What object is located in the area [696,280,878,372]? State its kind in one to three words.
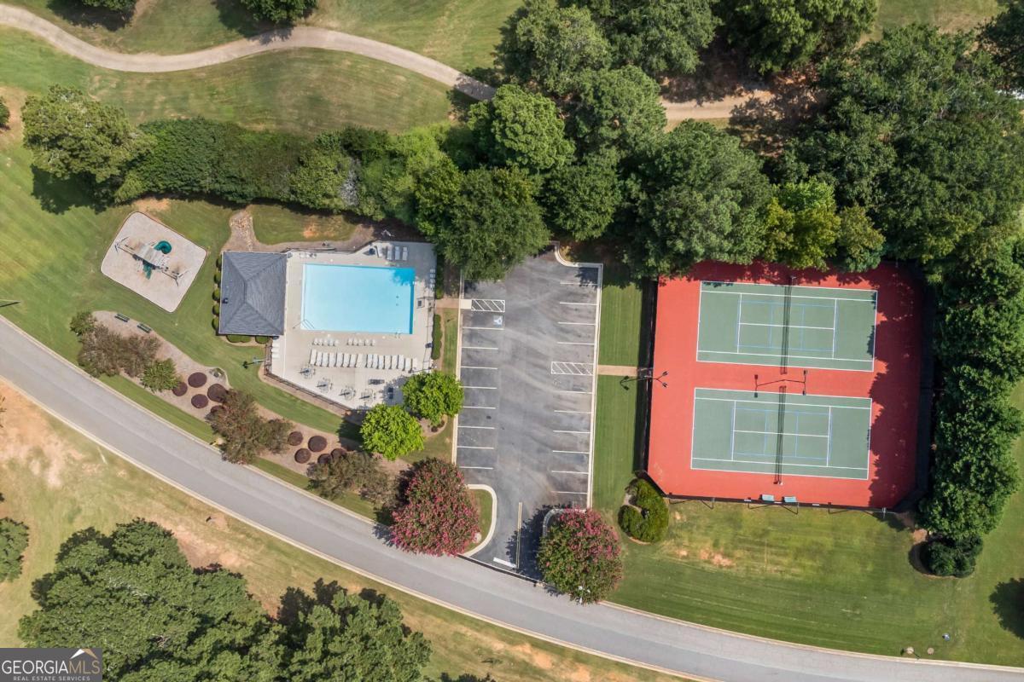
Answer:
tennis court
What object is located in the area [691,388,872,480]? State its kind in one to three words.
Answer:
tennis court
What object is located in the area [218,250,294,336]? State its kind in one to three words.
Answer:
building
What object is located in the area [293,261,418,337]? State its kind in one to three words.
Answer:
swimming pool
